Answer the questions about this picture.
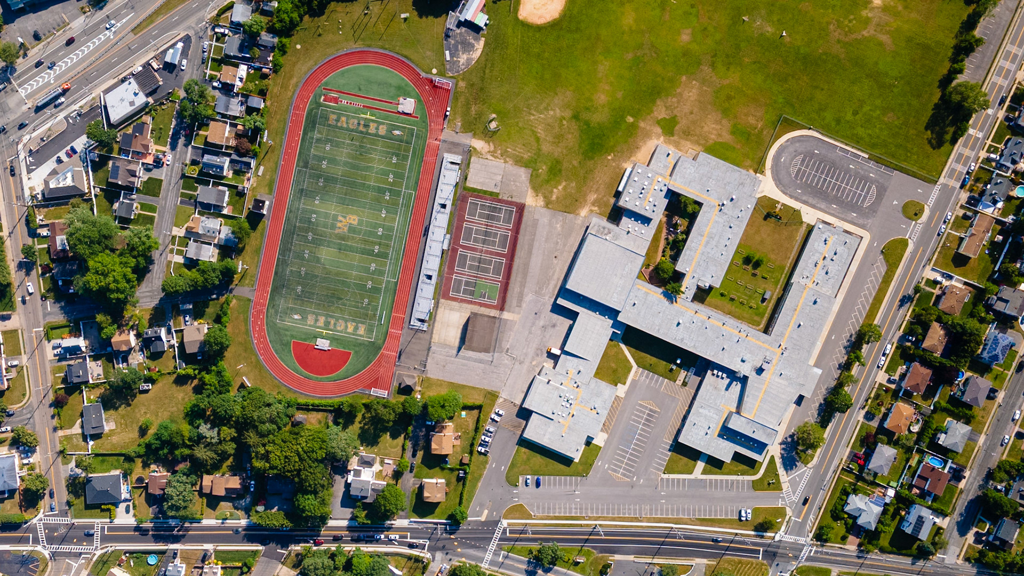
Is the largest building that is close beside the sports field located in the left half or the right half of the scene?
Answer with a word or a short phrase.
right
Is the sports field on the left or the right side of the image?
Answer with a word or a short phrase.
left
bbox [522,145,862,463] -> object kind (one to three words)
building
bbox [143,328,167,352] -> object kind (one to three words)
house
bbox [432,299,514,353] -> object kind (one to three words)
sports court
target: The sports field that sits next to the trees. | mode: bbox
[265,64,428,382]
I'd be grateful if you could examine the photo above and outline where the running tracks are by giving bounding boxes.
[249,47,458,400]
